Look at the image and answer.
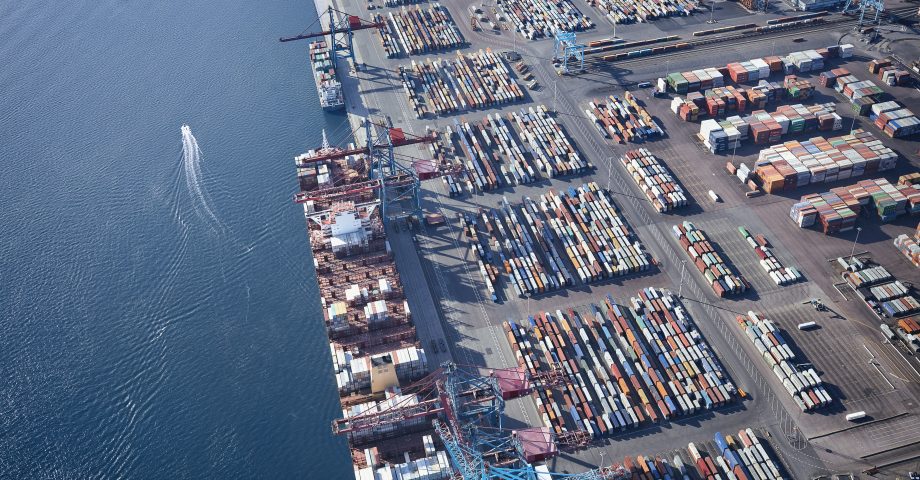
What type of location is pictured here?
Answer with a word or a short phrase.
port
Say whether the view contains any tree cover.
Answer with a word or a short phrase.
No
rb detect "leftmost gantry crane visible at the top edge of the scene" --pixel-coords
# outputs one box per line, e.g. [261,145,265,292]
[279,2,383,68]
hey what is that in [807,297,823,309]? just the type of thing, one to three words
vehicle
